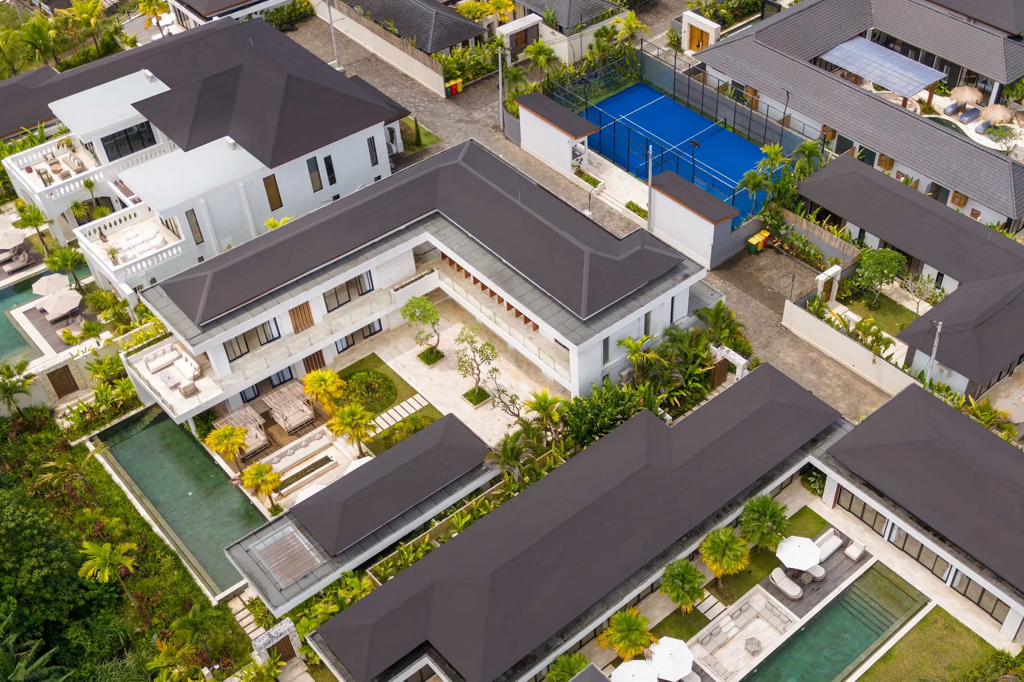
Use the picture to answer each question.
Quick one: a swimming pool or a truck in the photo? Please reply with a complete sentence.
Looking from above, you can make out a swimming pool.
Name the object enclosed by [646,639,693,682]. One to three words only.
umbrella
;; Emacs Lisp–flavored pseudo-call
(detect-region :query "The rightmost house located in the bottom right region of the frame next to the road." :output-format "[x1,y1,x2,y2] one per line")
[809,381,1024,640]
